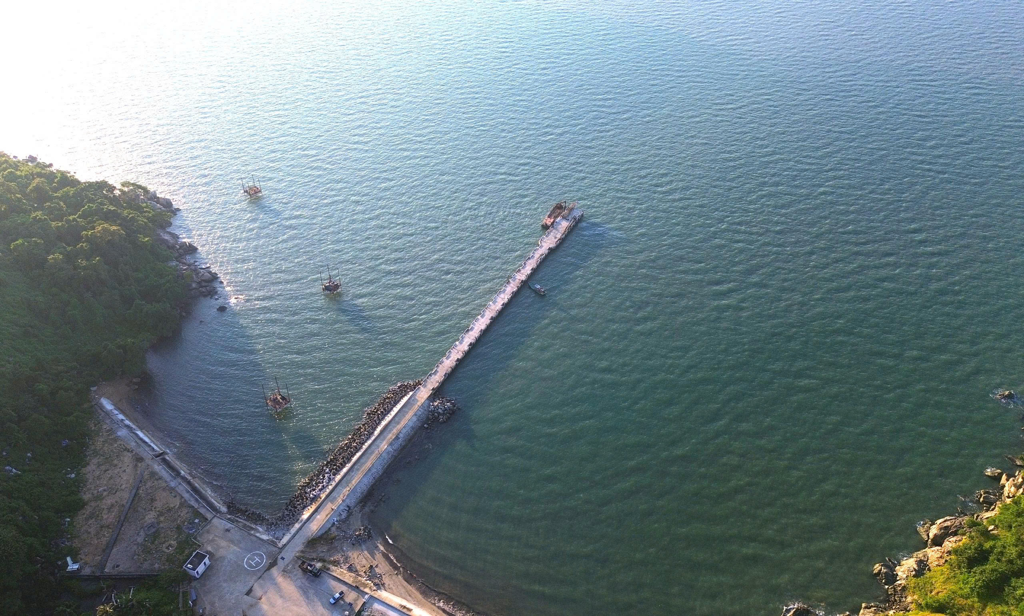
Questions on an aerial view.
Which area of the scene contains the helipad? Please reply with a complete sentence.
The helipad is located in the bottom left region of the scene.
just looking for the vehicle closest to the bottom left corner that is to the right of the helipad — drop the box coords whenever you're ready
[298,562,322,579]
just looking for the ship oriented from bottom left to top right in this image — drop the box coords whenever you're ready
[540,199,564,228]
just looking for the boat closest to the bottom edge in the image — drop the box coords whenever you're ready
[528,281,547,295]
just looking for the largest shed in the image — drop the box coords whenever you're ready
[183,551,212,579]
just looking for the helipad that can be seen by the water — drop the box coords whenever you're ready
[186,516,280,616]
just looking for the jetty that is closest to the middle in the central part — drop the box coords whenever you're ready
[420,208,586,397]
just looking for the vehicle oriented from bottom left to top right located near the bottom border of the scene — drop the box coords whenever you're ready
[329,590,346,604]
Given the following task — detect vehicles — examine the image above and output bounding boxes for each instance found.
[329,590,346,604]
[298,562,322,579]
